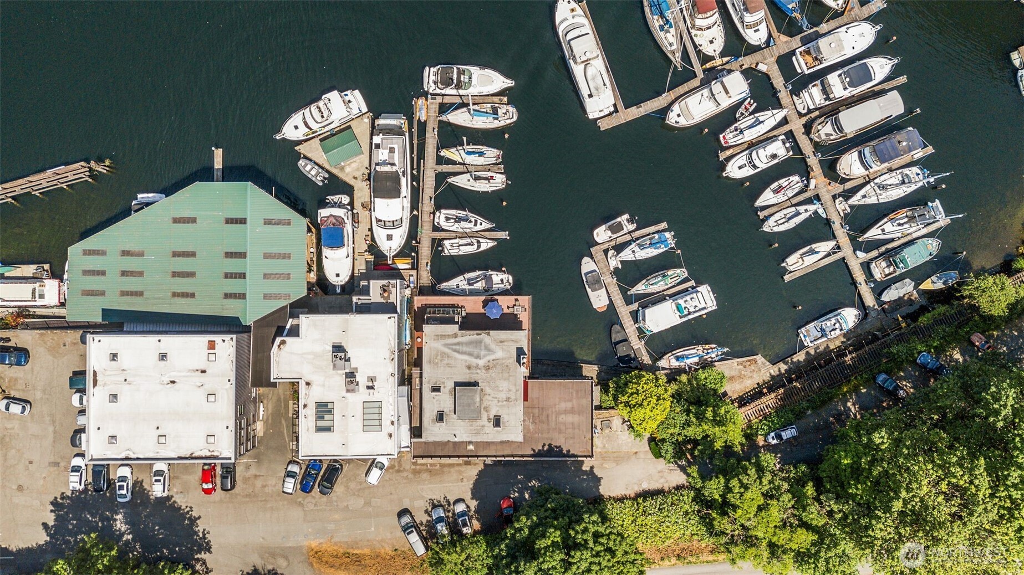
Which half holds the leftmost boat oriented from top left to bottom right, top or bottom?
top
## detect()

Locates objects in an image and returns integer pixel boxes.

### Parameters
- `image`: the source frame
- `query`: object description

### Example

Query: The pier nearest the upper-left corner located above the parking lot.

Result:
[0,160,109,204]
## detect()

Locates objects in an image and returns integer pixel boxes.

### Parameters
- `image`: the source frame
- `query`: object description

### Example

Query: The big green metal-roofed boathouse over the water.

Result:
[66,182,314,326]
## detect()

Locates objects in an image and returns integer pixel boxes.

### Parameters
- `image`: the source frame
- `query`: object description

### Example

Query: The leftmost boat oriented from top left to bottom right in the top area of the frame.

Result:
[297,159,328,187]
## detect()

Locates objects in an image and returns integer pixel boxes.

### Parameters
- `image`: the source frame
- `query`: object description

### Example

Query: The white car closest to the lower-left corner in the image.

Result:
[67,455,89,492]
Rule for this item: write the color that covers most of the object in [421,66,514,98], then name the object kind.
white boat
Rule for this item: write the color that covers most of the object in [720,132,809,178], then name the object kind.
white boat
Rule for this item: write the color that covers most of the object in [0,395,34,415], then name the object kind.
white car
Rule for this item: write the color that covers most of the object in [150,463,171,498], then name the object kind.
white car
